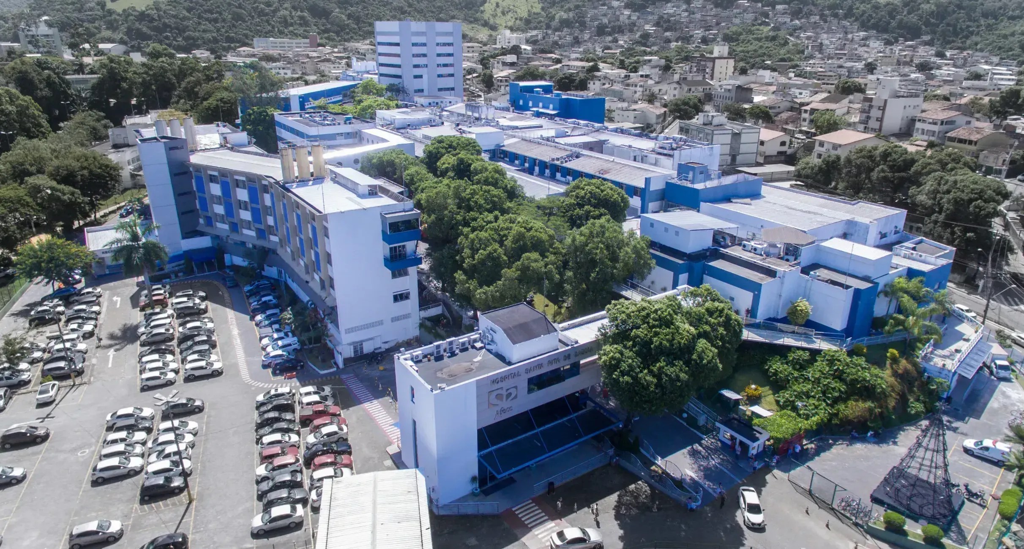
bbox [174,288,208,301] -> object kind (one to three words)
vehicle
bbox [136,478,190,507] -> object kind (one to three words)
car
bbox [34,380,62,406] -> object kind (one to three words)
car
